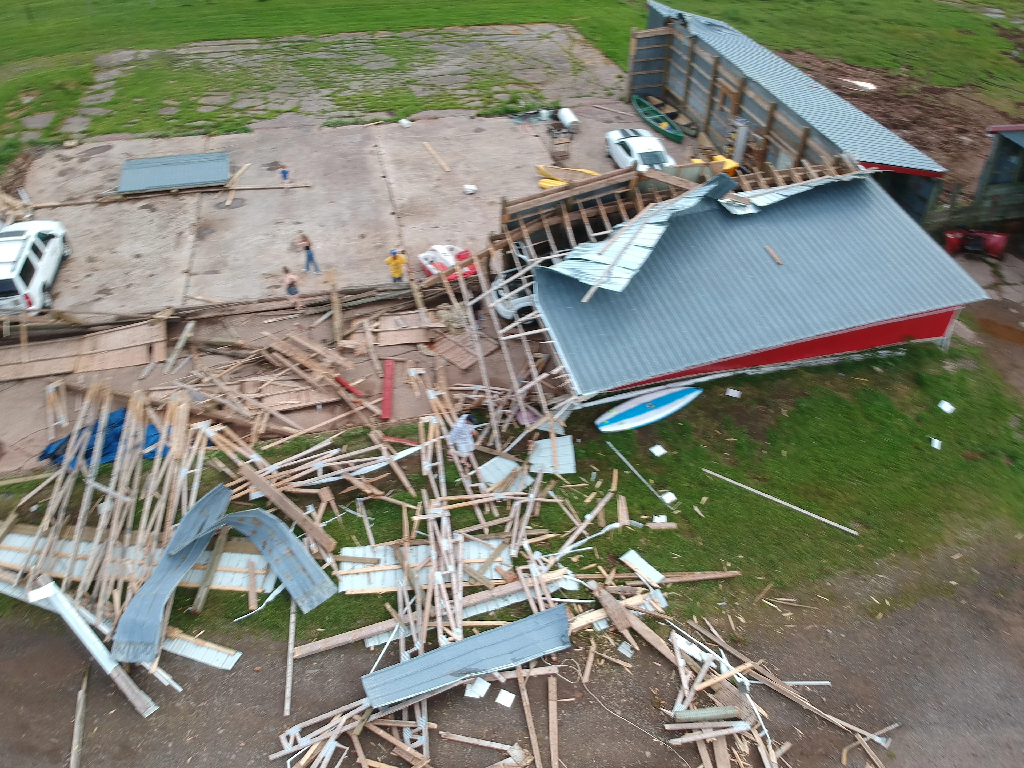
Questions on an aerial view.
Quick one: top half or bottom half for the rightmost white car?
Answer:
top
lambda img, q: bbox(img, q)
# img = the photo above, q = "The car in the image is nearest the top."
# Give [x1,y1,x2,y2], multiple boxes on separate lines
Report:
[609,129,686,178]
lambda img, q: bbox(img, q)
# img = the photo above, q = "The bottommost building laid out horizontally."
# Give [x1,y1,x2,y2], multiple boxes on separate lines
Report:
[421,152,989,449]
